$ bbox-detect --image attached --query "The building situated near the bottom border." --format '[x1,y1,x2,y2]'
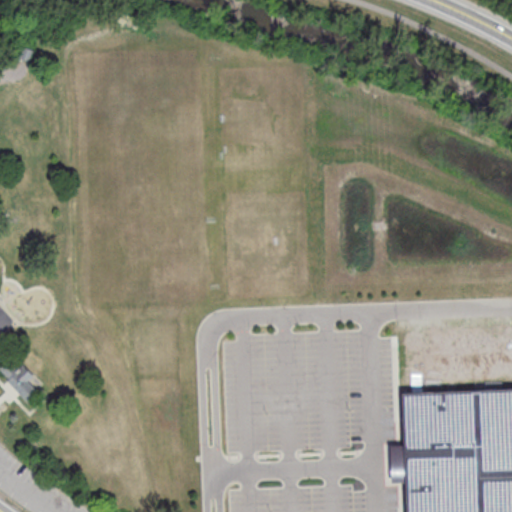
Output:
[390,390,512,512]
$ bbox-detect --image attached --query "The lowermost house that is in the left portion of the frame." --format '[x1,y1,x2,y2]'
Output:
[0,366,34,405]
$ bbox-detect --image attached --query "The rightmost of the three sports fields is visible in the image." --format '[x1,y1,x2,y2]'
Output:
[224,64,308,297]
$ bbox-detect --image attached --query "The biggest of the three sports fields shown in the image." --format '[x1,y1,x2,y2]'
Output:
[77,48,207,305]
